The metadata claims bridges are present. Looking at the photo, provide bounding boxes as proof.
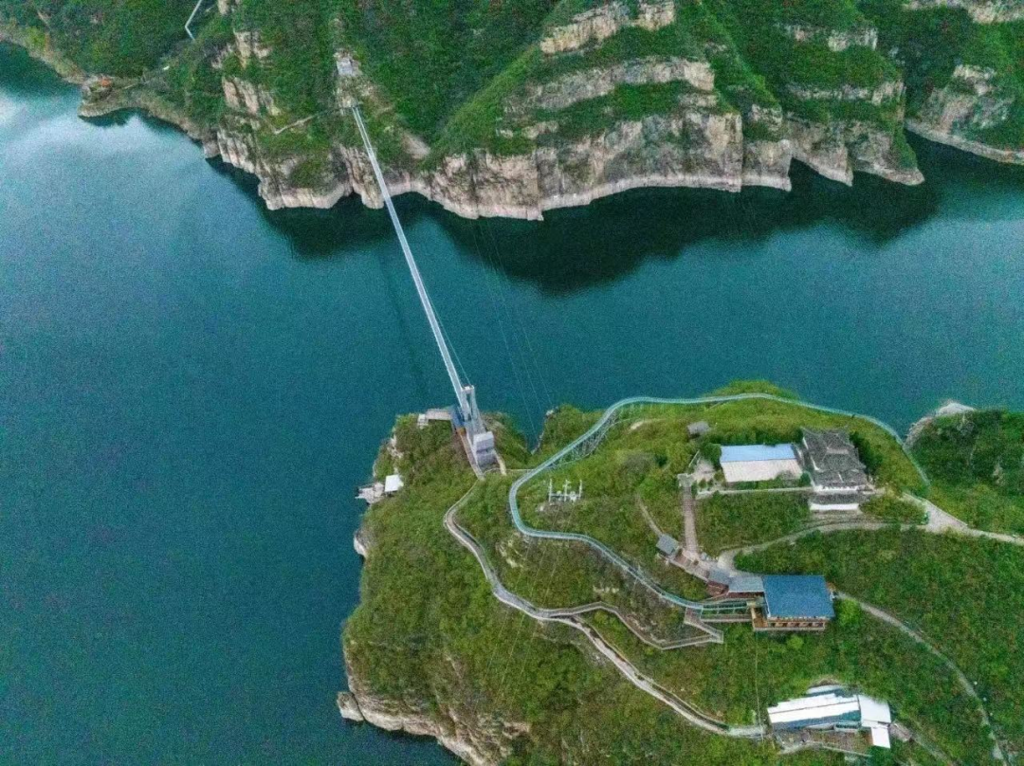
[351,101,497,463]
